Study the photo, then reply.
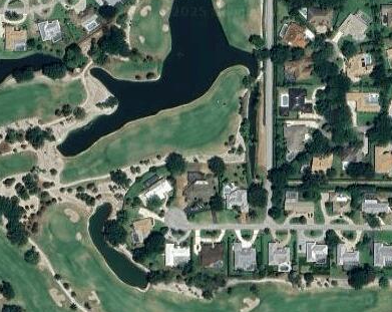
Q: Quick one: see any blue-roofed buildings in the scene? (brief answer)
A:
No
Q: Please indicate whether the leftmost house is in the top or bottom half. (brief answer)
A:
top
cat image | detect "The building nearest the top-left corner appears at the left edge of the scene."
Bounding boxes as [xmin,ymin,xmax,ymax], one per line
[4,25,28,49]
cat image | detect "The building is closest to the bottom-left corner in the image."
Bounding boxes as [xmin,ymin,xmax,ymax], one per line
[130,217,155,243]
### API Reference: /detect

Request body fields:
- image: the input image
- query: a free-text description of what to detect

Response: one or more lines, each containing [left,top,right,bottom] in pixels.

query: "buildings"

[374,145,392,172]
[130,217,155,243]
[269,244,289,264]
[336,245,360,268]
[166,244,190,266]
[290,89,311,111]
[39,20,63,43]
[342,143,367,165]
[306,243,327,262]
[339,12,370,42]
[143,173,172,205]
[304,9,333,31]
[346,92,380,111]
[80,11,103,35]
[373,244,392,266]
[4,25,28,49]
[234,244,256,271]
[362,197,390,212]
[346,60,375,82]
[199,245,222,267]
[381,8,392,28]
[311,154,333,173]
[283,125,310,153]
[329,194,352,213]
[283,22,309,48]
[186,182,215,203]
[226,188,247,211]
[283,57,313,82]
[284,185,313,211]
